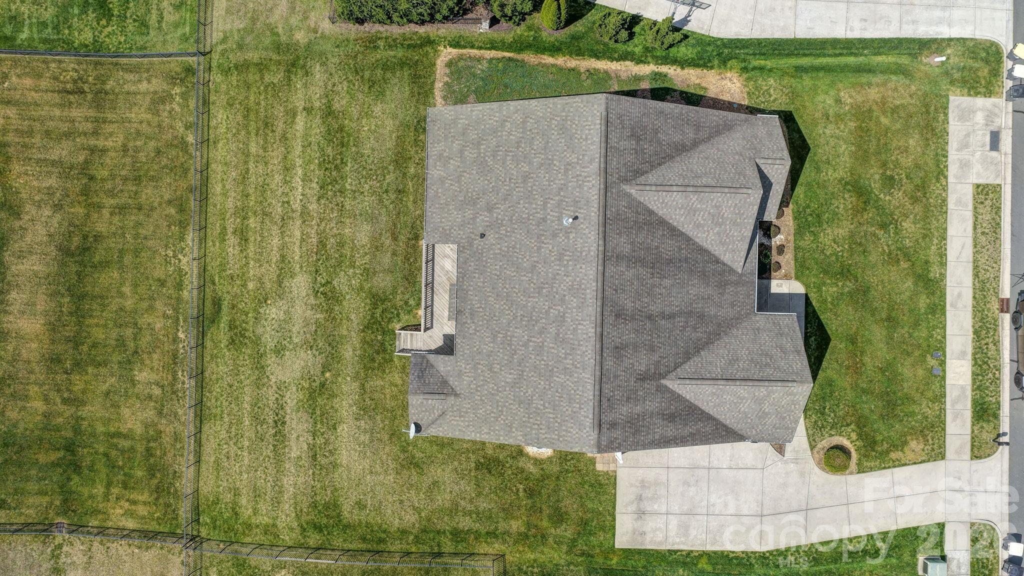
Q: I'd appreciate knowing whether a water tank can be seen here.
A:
No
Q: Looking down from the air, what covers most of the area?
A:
grass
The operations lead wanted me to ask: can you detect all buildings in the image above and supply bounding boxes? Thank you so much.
[408,94,813,462]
